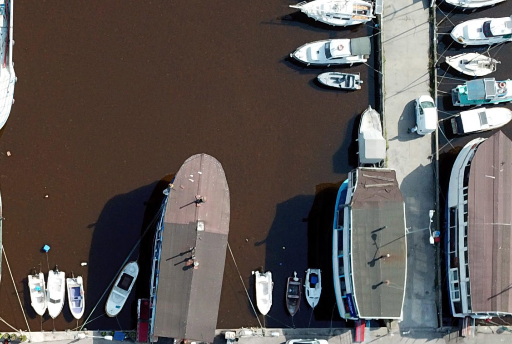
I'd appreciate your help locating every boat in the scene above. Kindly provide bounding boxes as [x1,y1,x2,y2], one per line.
[439,106,512,134]
[251,267,275,320]
[30,269,47,314]
[47,266,65,332]
[353,100,386,168]
[82,153,263,343]
[302,269,321,324]
[67,272,84,318]
[437,39,507,83]
[436,8,512,60]
[286,274,301,316]
[318,72,381,99]
[330,167,416,333]
[73,251,141,330]
[288,33,381,74]
[436,0,505,17]
[289,0,380,26]
[439,129,512,332]
[438,76,512,109]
